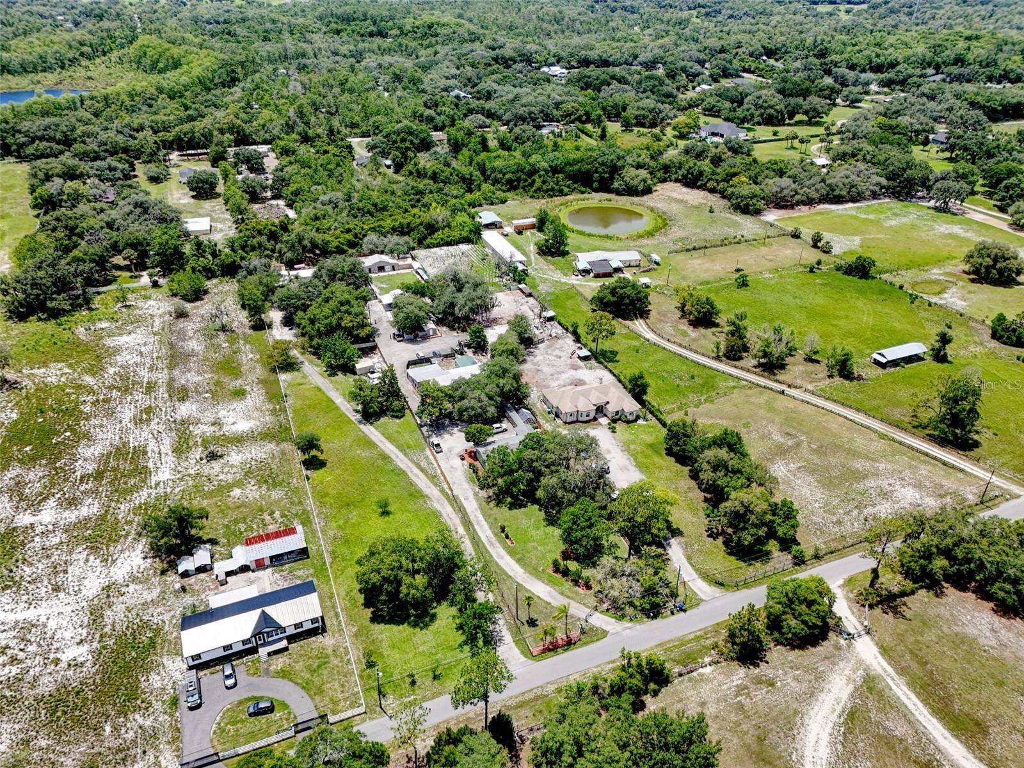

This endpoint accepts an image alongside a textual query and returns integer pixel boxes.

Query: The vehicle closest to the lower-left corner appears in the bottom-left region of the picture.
[181,663,200,707]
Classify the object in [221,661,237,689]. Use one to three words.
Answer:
car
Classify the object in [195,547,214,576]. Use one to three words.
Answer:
shed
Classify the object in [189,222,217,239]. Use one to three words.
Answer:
barn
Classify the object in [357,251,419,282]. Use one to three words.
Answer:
building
